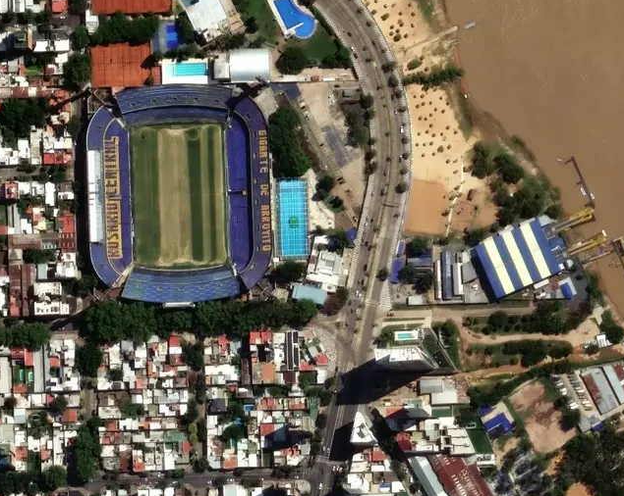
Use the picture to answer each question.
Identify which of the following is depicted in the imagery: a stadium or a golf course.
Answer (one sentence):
Looking from above, you can make out a stadium.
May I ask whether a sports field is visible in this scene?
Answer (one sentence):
Yes, the frame does contain a sports field.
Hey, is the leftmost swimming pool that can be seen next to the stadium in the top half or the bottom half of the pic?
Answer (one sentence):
Seen from above, the leftmost swimming pool that can be seen next to the stadium lies in the top half of the view.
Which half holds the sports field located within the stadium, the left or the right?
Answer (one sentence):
You can find the sports field located within the stadium on the left side of the picture.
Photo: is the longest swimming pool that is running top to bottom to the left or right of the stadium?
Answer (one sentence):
The longest swimming pool that is running top to bottom is to the right of the stadium.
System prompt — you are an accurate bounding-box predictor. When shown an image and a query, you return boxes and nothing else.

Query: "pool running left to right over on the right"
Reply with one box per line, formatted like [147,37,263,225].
[395,330,419,343]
